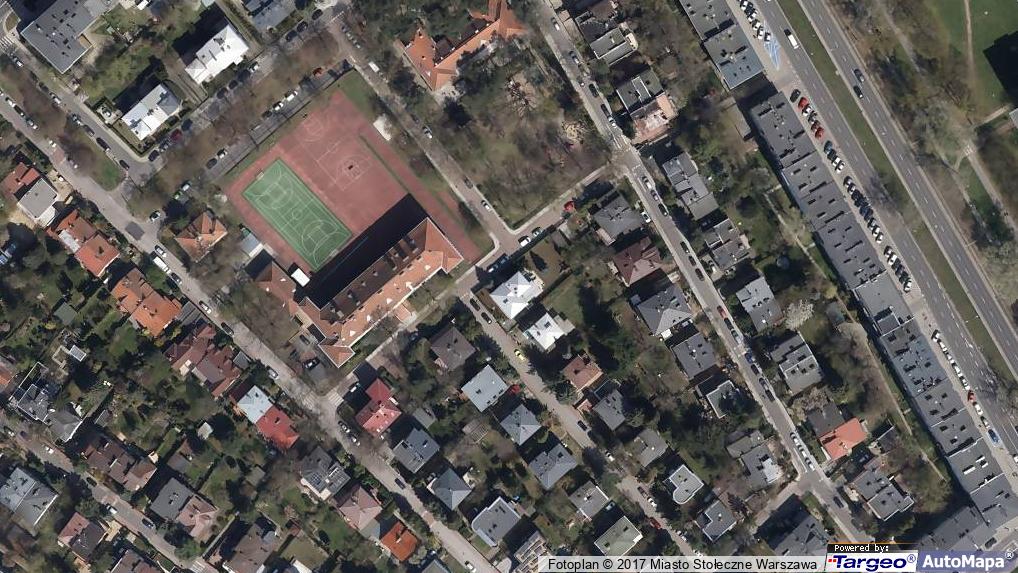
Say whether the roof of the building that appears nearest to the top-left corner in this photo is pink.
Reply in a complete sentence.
No, from above the roof of the building that appears nearest to the top-left corner looks gray.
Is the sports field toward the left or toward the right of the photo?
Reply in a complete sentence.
You can find the sports field on the left side of the picture.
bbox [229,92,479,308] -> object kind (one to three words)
sports field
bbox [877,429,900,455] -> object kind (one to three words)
building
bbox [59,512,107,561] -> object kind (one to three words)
house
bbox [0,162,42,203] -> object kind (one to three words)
house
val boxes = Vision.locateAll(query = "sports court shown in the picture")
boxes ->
[242,159,352,272]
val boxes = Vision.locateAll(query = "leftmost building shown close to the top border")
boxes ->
[21,0,120,76]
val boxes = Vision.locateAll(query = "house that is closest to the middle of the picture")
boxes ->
[490,269,544,318]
